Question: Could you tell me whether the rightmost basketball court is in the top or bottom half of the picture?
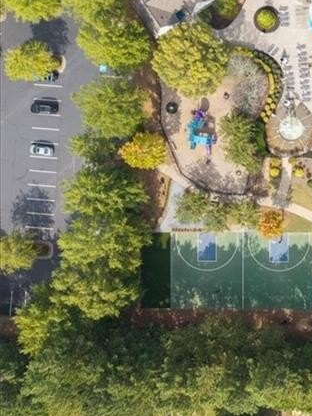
bottom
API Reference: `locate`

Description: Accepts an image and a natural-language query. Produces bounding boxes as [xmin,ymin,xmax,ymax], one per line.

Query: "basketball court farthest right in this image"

[170,232,312,309]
